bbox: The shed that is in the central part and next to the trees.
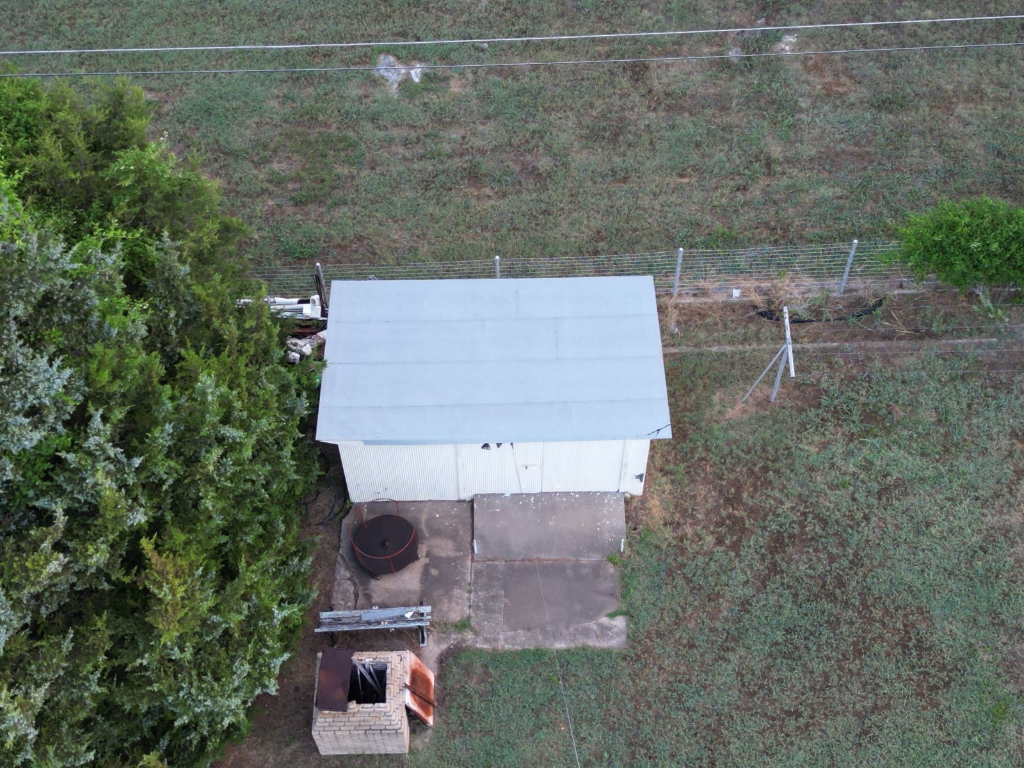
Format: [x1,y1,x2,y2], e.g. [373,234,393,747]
[316,276,671,501]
